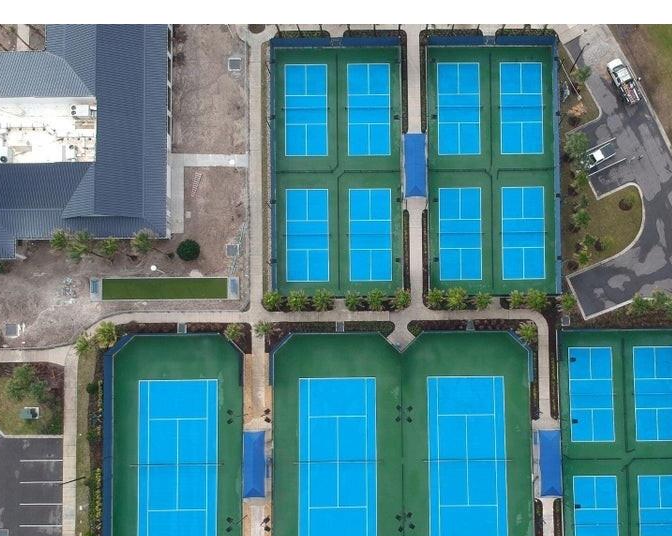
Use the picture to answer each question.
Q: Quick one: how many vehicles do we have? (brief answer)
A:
2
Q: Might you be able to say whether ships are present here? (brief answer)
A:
No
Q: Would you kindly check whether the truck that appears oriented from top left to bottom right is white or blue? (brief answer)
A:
white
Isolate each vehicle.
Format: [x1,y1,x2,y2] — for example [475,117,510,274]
[609,62,645,105]
[576,141,619,171]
